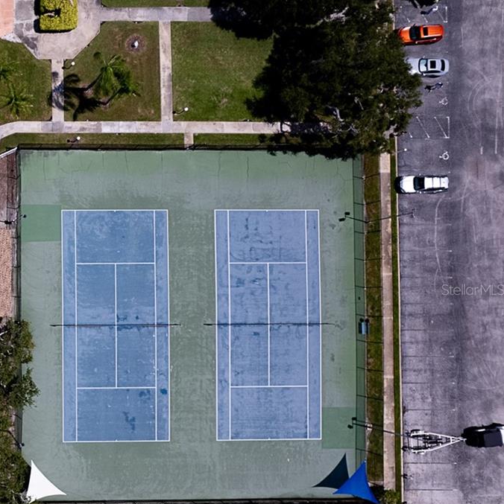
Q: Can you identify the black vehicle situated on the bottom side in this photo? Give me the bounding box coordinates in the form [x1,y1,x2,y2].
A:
[464,426,504,447]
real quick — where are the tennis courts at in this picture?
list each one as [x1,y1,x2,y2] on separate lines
[51,210,183,443]
[205,210,336,441]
